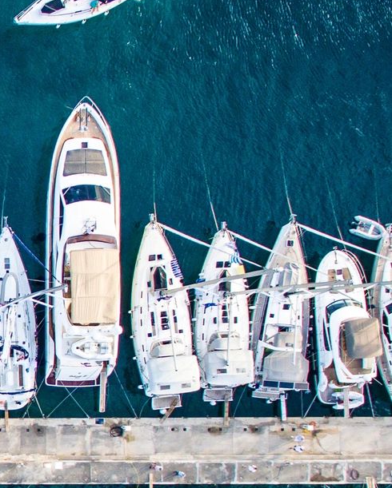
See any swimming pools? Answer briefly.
No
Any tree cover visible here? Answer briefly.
No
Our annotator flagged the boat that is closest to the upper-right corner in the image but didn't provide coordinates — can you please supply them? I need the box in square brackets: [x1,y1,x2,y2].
[348,218,385,242]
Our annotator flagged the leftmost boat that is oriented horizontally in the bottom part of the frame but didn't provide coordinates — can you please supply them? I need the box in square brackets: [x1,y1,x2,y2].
[73,339,116,358]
